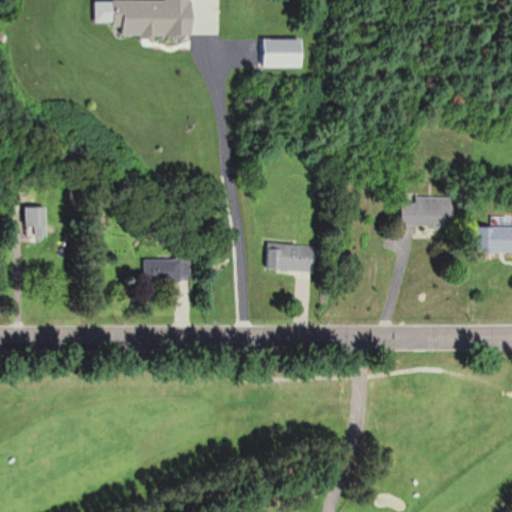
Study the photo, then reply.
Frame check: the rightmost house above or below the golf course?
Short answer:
above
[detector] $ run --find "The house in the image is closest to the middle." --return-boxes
[266,242,314,272]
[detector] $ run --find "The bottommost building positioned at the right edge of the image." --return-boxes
[480,227,512,261]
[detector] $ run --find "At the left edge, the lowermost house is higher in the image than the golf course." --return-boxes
[24,207,47,242]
